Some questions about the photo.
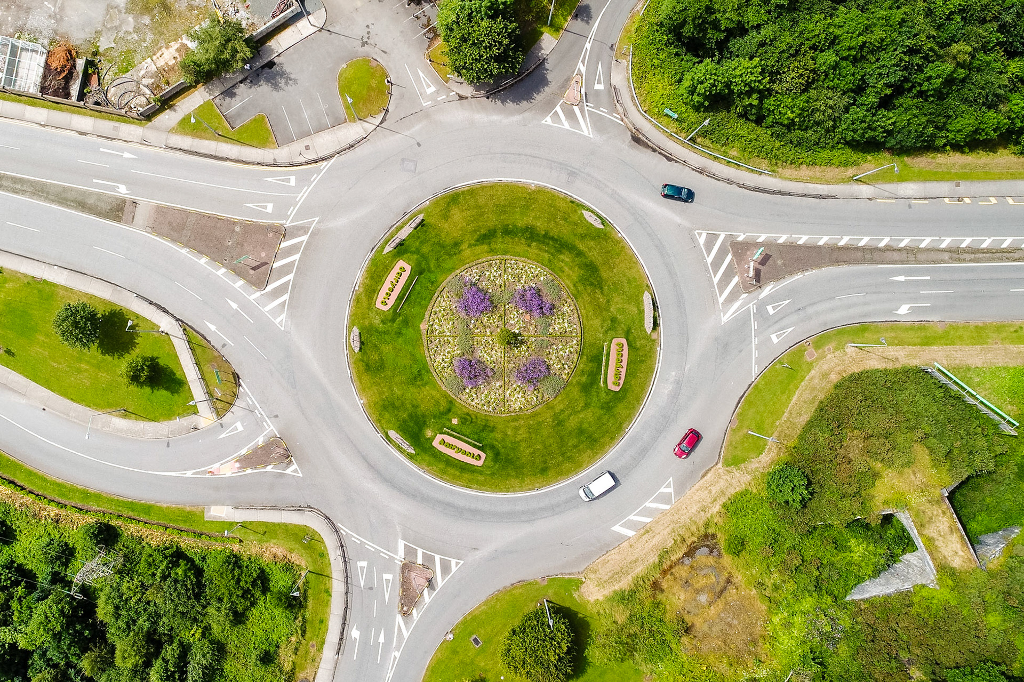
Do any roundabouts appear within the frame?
Yes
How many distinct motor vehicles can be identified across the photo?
three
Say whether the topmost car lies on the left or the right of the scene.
right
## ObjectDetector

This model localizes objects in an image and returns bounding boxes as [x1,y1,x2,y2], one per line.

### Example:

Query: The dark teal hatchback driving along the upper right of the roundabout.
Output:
[660,184,694,204]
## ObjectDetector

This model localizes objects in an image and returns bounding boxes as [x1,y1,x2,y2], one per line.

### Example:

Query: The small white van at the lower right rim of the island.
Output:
[578,470,615,500]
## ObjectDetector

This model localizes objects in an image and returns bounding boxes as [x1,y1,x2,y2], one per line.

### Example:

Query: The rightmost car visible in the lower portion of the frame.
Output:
[673,428,701,459]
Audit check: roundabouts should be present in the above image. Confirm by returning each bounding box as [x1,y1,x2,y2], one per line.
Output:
[290,123,718,551]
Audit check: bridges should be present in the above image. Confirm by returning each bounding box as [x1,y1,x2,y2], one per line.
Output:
[847,477,1024,606]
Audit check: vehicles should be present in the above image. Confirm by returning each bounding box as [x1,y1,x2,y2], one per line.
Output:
[660,184,694,204]
[673,428,701,459]
[578,470,615,500]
